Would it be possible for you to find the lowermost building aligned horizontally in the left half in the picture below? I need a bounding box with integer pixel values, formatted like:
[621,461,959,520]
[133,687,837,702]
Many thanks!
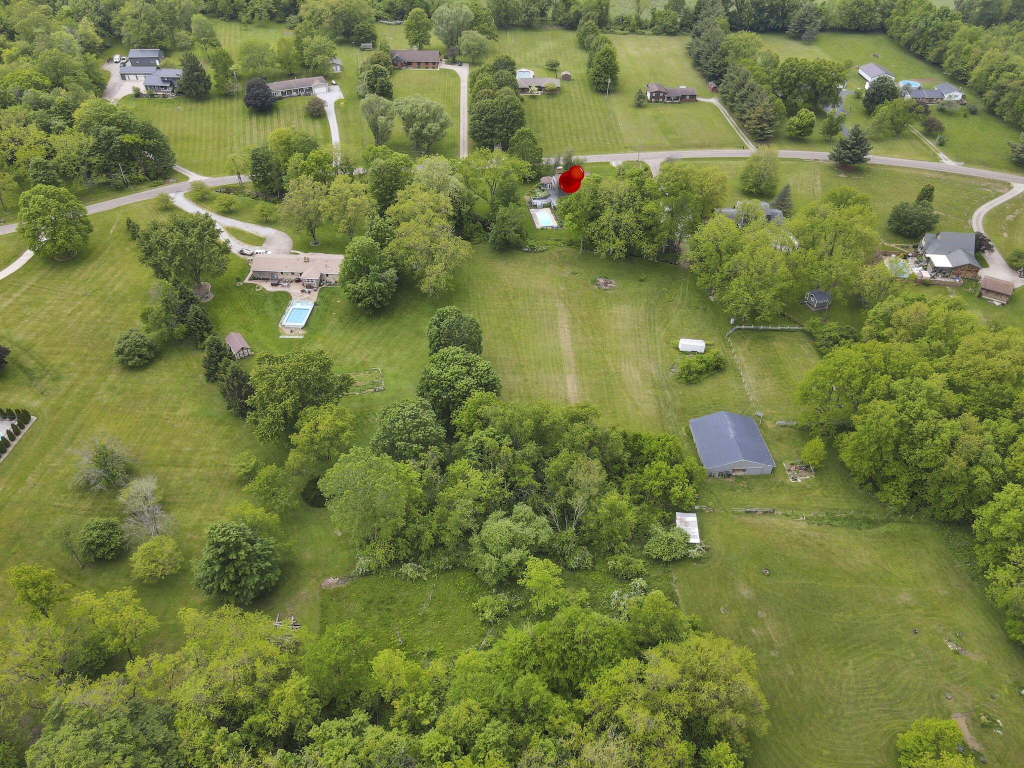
[250,252,349,289]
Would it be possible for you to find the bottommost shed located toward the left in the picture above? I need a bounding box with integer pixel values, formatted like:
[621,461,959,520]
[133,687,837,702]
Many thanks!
[228,331,252,359]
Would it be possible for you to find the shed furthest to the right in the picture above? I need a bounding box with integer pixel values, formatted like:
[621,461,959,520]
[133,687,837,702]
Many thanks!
[982,277,1017,302]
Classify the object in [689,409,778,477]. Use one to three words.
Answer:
barn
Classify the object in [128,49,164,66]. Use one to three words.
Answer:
barn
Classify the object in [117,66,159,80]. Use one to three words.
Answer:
house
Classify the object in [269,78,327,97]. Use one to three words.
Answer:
house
